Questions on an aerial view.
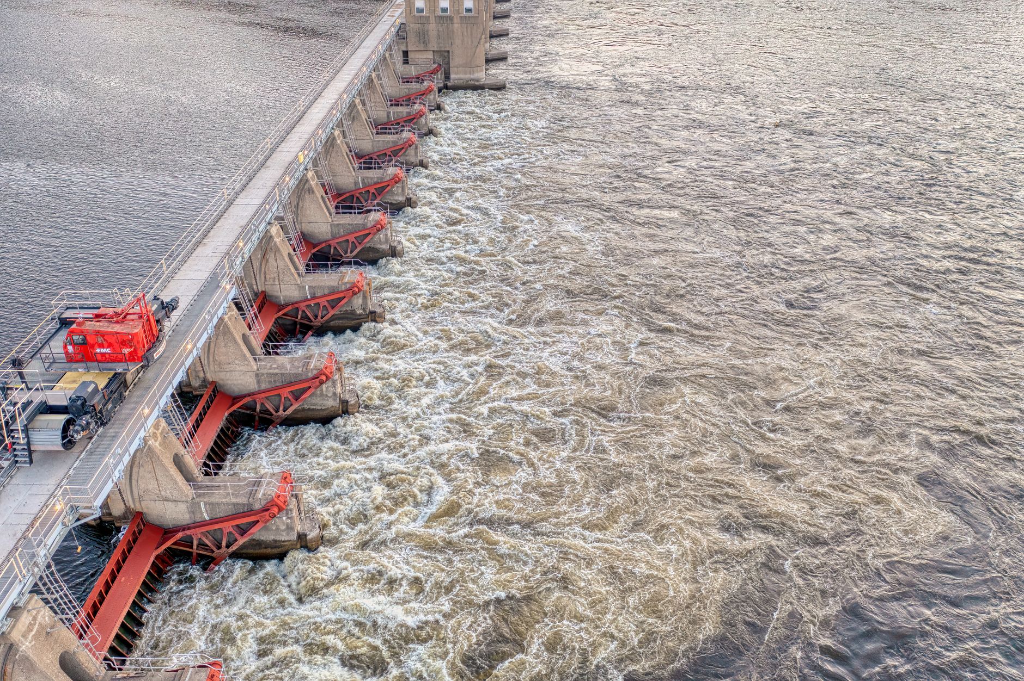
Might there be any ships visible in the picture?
No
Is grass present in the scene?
No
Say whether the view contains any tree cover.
No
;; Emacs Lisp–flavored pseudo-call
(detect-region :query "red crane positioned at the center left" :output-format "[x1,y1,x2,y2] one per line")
[38,289,169,375]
